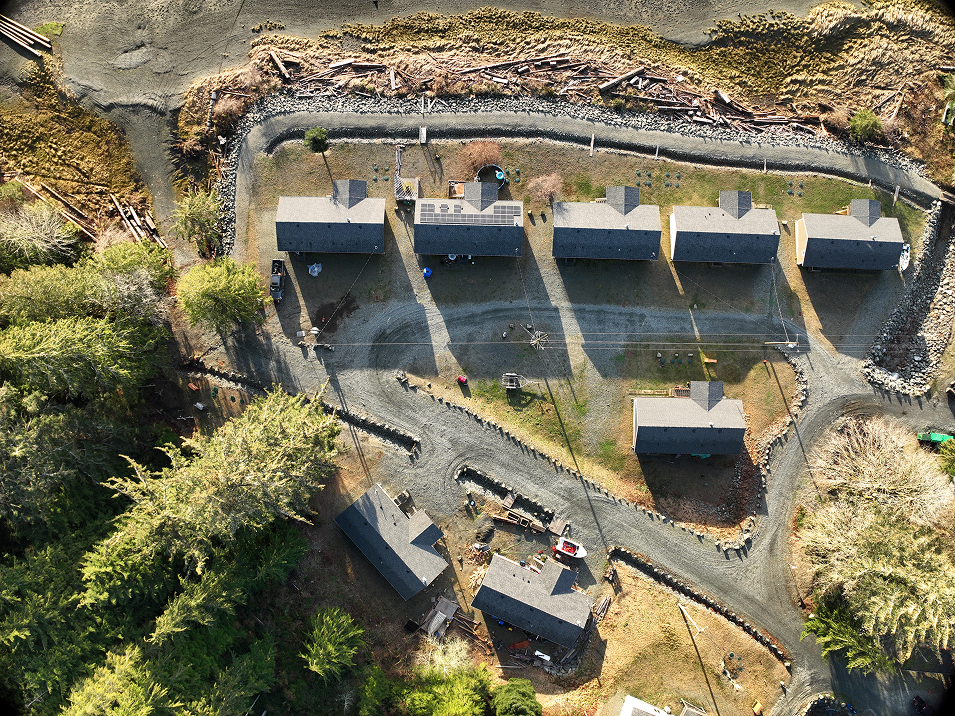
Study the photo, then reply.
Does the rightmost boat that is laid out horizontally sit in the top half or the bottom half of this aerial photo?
bottom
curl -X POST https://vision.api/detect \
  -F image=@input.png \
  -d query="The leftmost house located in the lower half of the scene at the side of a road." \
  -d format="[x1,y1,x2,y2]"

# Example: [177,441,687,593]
[335,483,449,601]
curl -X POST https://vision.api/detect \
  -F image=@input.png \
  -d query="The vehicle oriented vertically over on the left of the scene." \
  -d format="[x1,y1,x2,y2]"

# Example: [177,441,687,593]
[269,257,287,302]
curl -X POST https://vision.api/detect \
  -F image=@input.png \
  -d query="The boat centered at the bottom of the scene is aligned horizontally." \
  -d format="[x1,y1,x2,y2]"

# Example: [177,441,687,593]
[551,537,588,557]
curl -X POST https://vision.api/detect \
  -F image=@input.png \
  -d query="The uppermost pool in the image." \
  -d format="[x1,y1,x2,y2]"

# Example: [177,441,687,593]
[473,157,504,184]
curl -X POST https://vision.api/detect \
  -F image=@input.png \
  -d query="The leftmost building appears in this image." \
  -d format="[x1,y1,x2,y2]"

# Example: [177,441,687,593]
[275,179,386,263]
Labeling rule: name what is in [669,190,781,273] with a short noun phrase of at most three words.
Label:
house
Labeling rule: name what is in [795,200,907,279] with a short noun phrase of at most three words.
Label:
house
